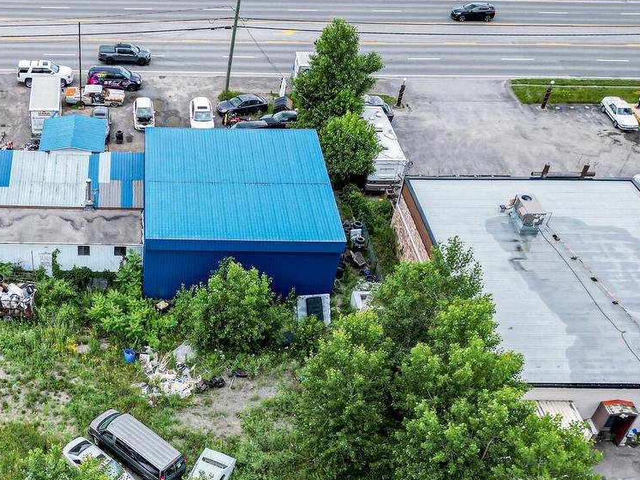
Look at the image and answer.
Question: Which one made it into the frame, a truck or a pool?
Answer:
truck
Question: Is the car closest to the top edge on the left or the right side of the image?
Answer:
right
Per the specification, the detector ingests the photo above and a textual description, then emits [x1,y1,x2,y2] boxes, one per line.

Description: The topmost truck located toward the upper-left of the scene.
[97,40,153,65]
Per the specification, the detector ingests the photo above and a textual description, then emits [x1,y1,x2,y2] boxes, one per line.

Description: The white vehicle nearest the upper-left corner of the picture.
[14,57,76,87]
